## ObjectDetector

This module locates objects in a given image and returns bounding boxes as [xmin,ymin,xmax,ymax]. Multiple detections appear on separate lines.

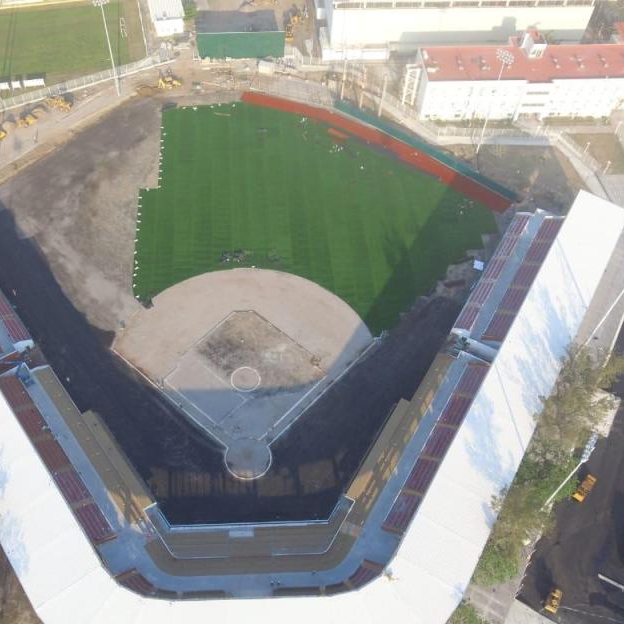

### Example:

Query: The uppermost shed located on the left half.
[150,0,186,38]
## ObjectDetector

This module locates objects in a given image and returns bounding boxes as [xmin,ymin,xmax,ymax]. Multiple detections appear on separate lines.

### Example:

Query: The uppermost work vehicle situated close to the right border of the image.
[576,473,596,500]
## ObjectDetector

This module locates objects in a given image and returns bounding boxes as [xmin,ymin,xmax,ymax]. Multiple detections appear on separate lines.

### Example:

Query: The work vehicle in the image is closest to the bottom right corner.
[548,583,562,611]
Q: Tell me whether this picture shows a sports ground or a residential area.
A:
sports ground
